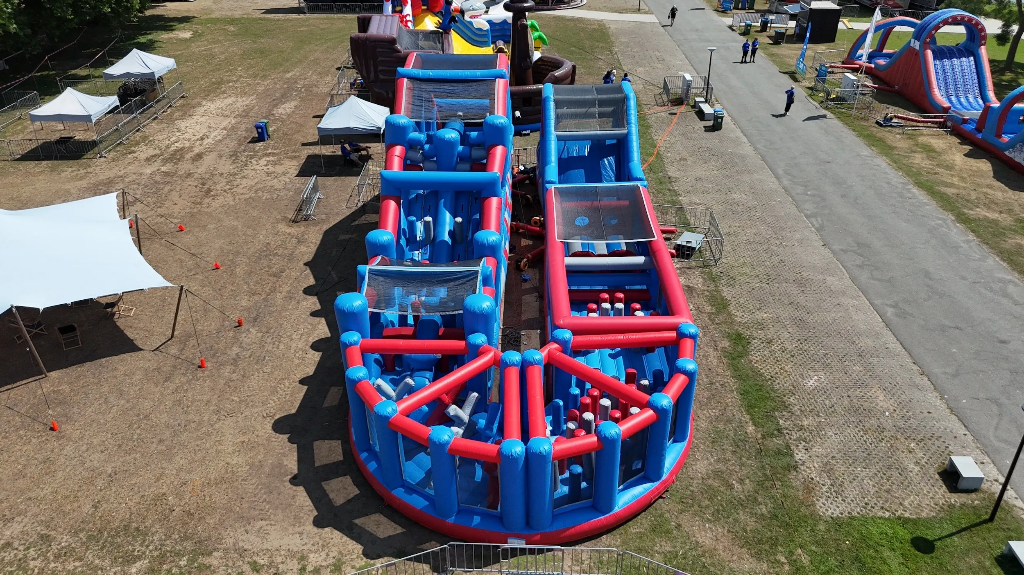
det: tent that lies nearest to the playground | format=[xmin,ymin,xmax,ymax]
[315,96,391,172]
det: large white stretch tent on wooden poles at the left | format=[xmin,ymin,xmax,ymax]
[0,187,235,420]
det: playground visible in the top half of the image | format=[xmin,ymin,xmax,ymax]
[416,14,495,60]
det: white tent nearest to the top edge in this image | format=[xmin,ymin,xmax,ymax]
[99,38,172,96]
